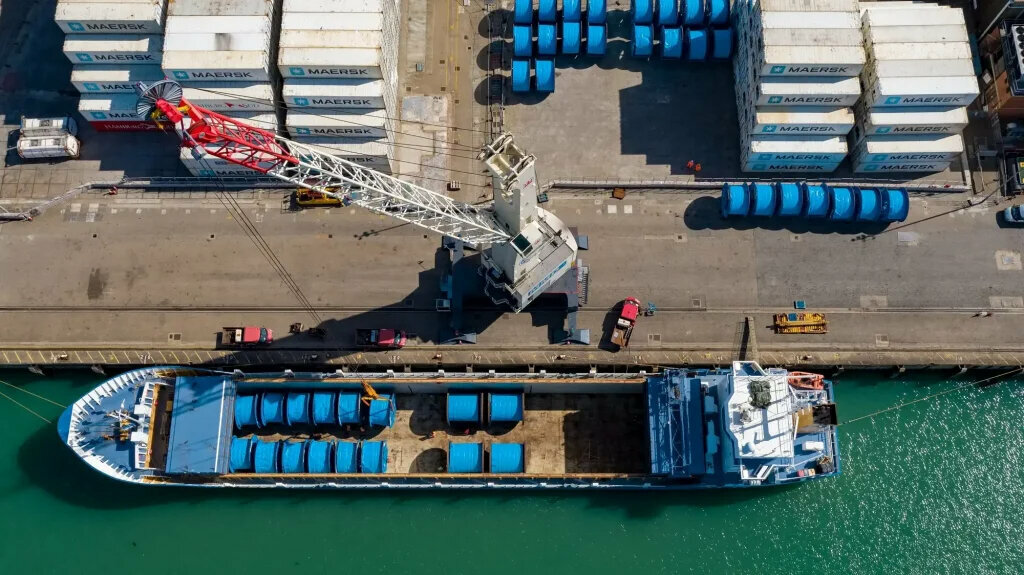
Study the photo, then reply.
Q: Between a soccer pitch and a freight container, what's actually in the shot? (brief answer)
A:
freight container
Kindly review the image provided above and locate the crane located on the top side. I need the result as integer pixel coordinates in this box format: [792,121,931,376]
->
[130,69,591,387]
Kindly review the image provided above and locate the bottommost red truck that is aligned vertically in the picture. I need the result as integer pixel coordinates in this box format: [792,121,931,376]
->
[615,298,639,347]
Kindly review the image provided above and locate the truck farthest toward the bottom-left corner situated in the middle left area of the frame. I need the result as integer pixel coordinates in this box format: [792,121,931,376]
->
[218,323,270,344]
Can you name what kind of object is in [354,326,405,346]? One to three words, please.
vehicle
